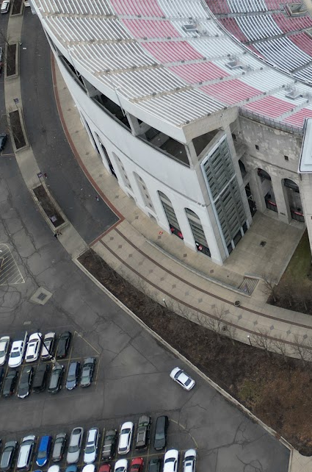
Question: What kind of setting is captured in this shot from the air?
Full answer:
The picture captures a sports ground.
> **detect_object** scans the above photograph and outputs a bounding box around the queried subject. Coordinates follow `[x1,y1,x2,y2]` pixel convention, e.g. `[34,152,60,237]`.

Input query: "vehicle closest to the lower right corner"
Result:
[179,448,198,472]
